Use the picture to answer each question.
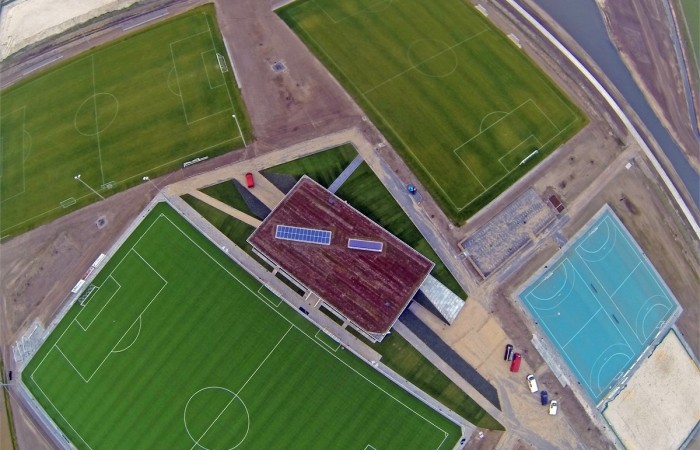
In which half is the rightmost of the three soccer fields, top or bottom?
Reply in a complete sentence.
The rightmost of the three soccer fields is in the top half of the image.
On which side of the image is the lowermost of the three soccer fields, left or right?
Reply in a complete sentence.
The lowermost of the three soccer fields is on the left side of the image.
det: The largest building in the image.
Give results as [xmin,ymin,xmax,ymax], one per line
[247,175,435,344]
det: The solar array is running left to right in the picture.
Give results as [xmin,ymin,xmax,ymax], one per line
[275,225,332,245]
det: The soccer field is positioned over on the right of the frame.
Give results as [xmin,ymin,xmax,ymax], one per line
[274,0,589,225]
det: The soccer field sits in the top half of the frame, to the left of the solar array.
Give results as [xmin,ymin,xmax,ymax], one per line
[0,3,253,243]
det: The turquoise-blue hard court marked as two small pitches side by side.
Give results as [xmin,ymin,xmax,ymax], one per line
[515,202,683,412]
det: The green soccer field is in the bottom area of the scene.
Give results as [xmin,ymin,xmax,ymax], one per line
[21,201,462,450]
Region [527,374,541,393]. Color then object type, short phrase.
white vehicle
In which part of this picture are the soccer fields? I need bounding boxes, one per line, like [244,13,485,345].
[0,3,253,243]
[274,0,589,225]
[21,201,462,450]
